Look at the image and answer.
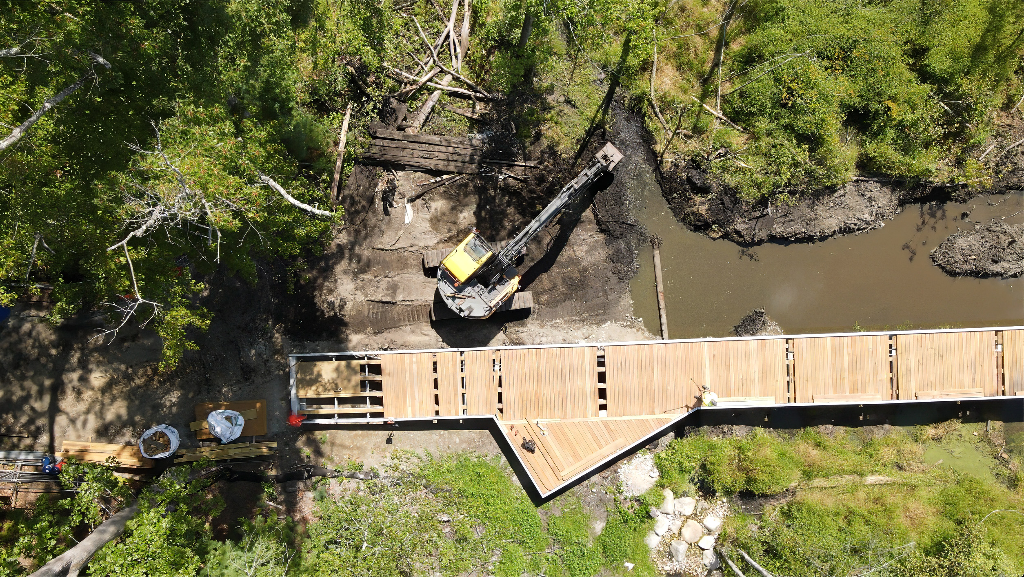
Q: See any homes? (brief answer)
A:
No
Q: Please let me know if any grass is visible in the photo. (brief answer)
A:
Yes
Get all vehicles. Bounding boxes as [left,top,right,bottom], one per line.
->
[421,142,626,323]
